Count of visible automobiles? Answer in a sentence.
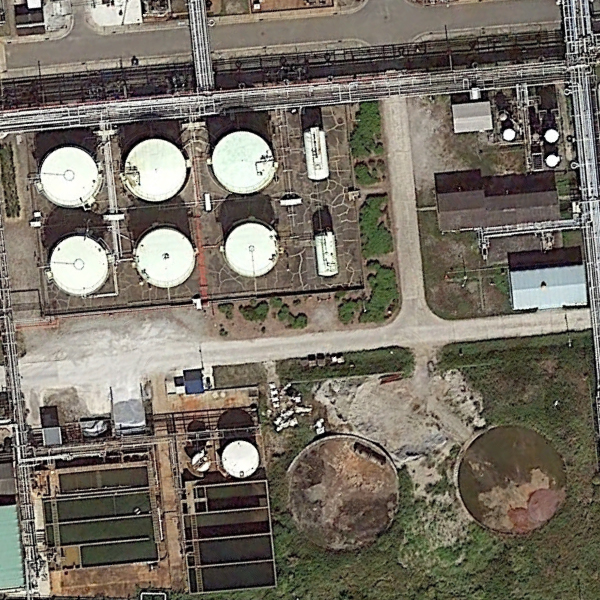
There are no automobiles in this view.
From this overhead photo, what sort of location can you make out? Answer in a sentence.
This looks like an industrial area.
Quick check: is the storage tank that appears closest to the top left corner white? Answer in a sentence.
Yes, white is the color of the storage tank that appears closest to the top left corner.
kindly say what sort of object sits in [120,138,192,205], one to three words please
storage tank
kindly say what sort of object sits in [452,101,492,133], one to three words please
shed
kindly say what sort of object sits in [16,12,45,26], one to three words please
building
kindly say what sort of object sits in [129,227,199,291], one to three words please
storage tank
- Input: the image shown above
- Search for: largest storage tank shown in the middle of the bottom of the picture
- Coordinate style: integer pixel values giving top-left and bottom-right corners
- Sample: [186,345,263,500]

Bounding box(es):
[221,440,260,481]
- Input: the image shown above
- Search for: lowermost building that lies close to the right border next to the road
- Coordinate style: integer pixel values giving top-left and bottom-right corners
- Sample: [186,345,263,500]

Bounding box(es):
[510,264,587,309]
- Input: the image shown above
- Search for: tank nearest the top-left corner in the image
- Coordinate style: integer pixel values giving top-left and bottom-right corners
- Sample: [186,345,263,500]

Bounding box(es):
[36,145,103,210]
